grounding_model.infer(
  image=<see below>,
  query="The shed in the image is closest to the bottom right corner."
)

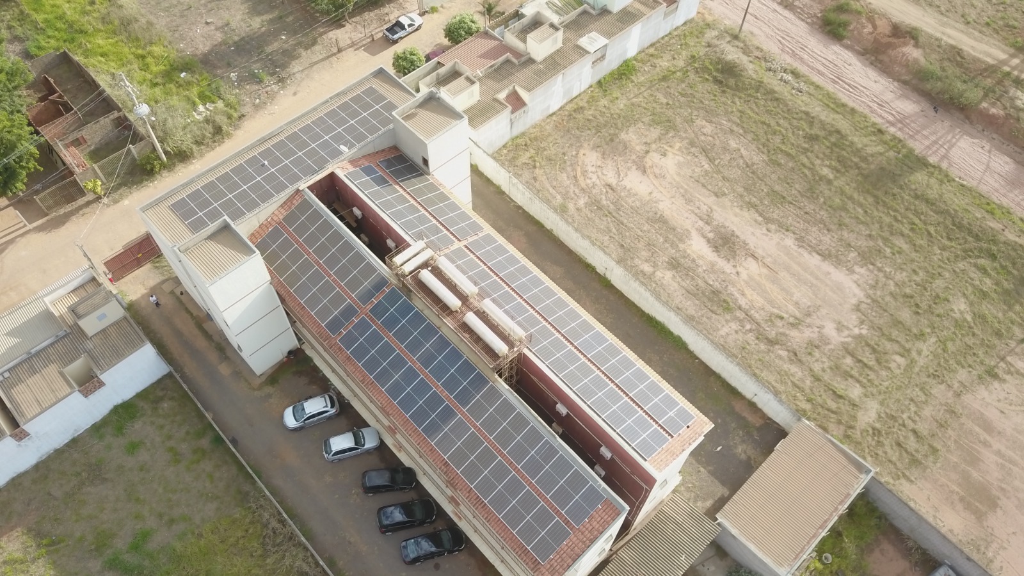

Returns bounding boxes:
[700,417,876,576]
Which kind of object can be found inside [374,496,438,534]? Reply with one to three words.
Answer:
car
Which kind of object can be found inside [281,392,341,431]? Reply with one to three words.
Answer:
car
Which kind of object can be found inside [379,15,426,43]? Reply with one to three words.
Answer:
truck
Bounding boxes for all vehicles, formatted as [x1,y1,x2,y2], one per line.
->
[359,462,419,497]
[281,392,341,431]
[321,425,380,461]
[423,44,464,67]
[379,15,426,43]
[374,496,438,534]
[397,527,466,568]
